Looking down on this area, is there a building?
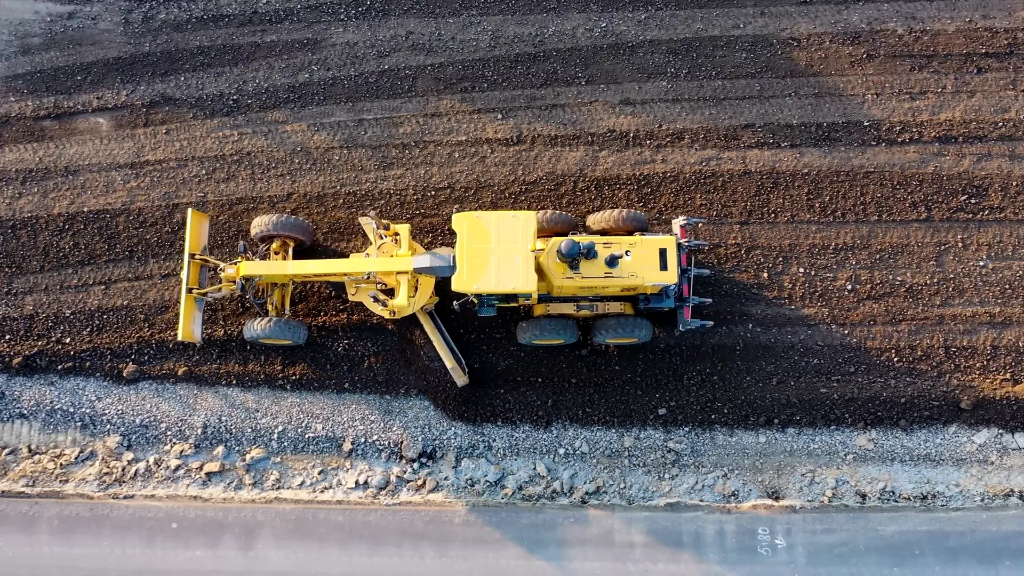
No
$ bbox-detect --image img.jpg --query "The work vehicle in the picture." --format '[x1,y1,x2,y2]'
[177,204,714,388]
